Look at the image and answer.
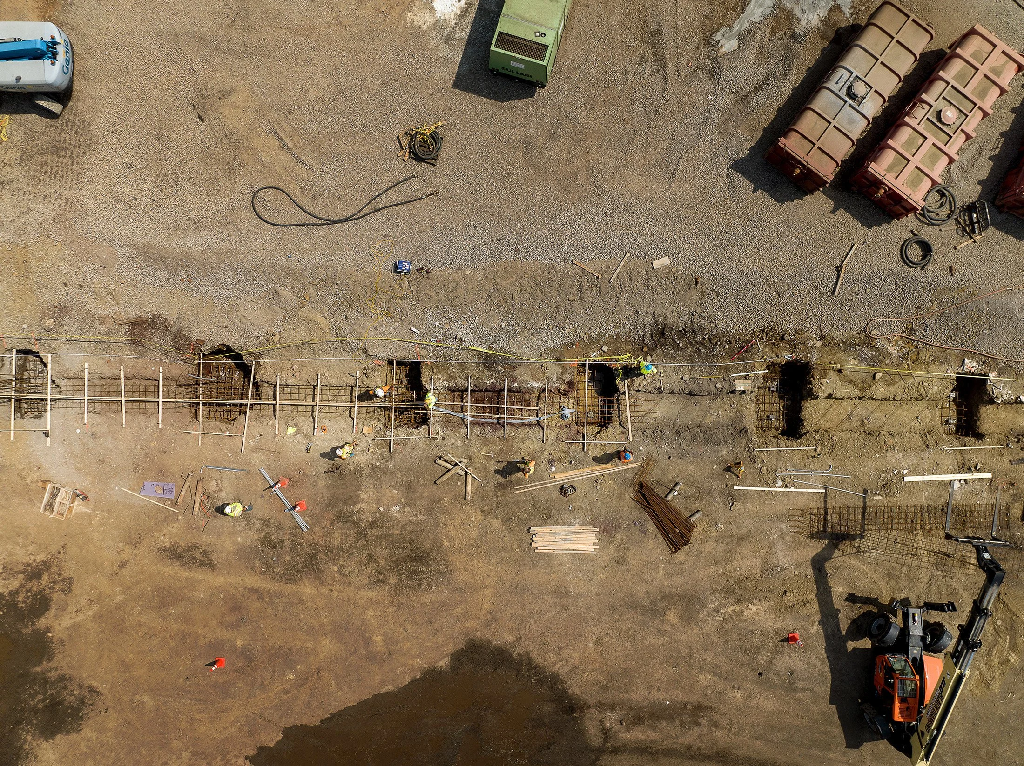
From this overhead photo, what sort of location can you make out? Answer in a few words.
industrial area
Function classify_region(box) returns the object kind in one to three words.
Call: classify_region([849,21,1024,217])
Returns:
storage tank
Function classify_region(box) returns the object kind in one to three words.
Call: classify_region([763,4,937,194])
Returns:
storage tank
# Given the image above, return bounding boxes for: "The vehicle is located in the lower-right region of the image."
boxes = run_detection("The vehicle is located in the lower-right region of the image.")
[860,482,1022,766]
